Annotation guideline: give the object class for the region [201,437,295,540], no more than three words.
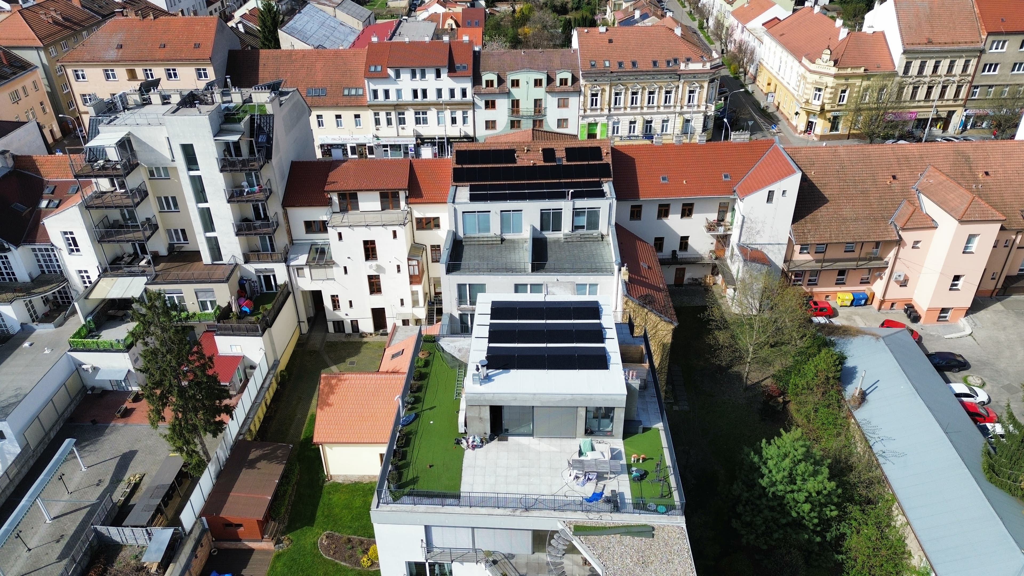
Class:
shed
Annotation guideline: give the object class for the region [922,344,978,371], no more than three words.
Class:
car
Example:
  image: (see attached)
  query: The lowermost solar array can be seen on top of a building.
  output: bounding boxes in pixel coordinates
[468,300,622,371]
